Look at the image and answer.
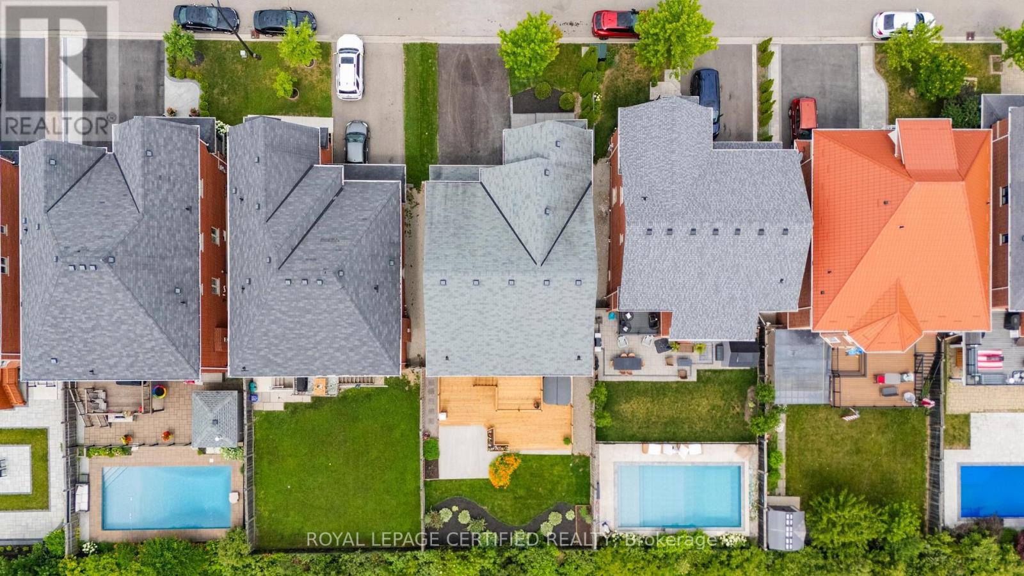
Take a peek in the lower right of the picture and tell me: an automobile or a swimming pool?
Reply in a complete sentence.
What appears in the lower right of the picture is a swimming pool.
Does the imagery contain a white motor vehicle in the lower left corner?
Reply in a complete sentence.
No, in the lower left corner there is no white motor vehicle.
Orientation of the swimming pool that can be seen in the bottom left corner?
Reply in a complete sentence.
The swimming pool that can be seen in the bottom left corner is laid out from side to side.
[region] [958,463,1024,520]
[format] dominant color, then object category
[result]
blue swimming pool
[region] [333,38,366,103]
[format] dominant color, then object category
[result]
white car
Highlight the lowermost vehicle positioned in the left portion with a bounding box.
[341,120,371,163]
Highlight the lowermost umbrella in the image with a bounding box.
[732,442,752,459]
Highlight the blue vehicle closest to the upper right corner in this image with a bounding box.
[689,70,722,140]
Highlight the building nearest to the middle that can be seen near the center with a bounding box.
[423,118,598,377]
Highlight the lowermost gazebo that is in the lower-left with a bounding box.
[191,390,244,448]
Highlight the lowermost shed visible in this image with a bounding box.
[767,506,803,551]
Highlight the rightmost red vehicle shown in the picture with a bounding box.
[785,97,817,140]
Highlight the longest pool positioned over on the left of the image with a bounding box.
[100,464,233,531]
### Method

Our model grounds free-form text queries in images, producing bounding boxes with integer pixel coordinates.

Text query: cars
[333,38,366,103]
[785,97,817,140]
[174,4,242,37]
[341,120,371,163]
[588,8,649,43]
[689,70,722,140]
[254,7,318,40]
[869,10,931,44]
